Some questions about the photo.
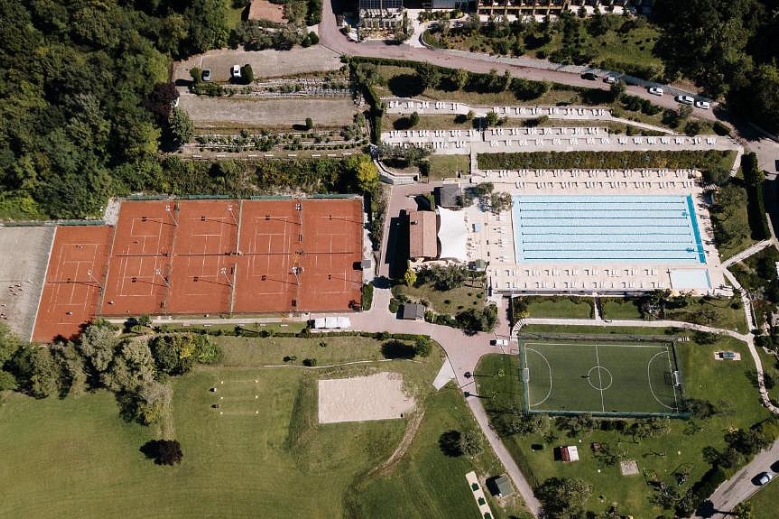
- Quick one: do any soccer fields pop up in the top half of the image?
No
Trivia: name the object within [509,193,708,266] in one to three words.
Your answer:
swimming pool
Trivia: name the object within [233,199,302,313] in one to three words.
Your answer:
tennis court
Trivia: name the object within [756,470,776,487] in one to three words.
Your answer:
car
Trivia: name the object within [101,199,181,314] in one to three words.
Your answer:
tennis court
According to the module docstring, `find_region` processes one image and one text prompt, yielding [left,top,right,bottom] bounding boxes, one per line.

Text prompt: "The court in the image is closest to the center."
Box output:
[297,199,363,312]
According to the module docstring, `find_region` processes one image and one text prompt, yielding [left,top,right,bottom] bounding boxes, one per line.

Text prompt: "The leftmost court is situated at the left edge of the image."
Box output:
[0,226,56,344]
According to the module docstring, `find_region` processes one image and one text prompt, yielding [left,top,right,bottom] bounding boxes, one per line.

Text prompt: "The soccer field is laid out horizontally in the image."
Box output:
[524,342,679,412]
